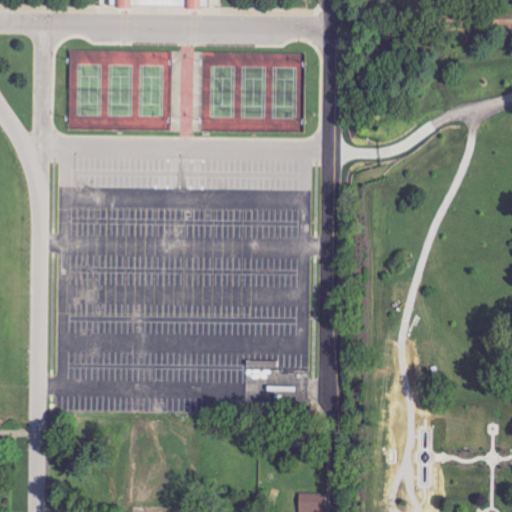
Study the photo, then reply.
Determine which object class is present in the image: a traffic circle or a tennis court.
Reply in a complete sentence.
Of the two, only a tennis court appears.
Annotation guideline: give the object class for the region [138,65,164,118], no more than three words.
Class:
tennis court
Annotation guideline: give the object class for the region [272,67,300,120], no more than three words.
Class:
tennis court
